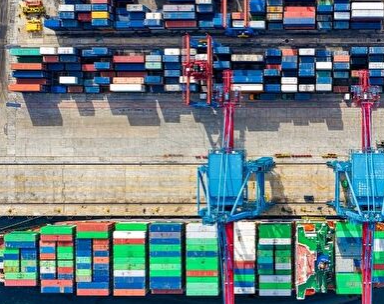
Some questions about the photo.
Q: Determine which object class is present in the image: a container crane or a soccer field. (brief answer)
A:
container crane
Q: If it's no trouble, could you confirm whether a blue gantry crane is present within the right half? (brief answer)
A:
Yes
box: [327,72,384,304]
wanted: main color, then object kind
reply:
blue container crane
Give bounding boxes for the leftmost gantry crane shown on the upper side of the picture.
[183,34,228,108]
